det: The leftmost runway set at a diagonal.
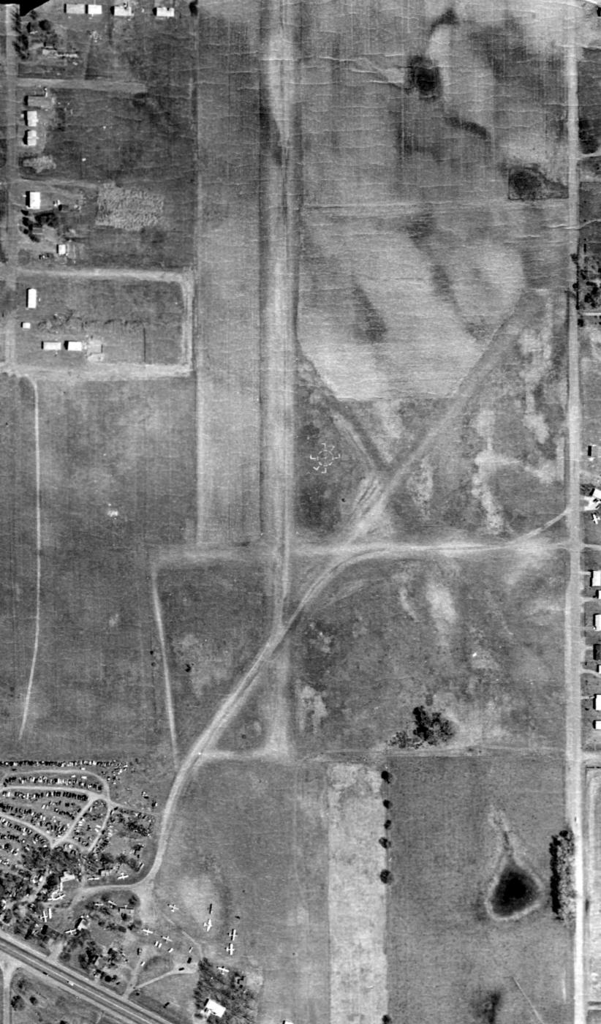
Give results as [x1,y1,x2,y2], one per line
[297,353,388,478]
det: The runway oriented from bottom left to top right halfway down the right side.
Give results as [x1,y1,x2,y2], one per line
[339,286,536,550]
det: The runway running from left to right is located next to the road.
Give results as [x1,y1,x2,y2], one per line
[146,538,570,561]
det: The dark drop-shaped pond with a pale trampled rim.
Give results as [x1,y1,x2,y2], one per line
[490,853,540,916]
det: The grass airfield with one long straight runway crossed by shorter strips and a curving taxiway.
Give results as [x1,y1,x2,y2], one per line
[138,0,570,925]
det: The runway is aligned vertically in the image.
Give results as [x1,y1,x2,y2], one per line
[261,0,298,628]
